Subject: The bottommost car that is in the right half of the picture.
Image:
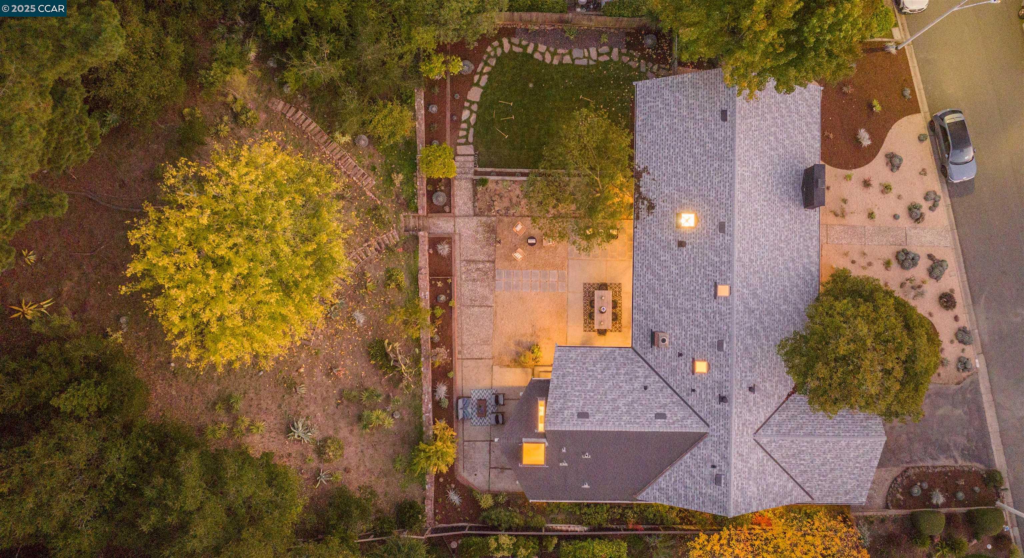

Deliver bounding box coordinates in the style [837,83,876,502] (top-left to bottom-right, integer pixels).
[931,107,983,184]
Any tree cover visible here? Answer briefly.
Yes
